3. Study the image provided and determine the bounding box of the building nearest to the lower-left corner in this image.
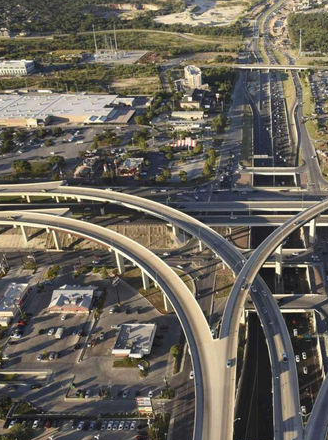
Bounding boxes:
[0,284,29,326]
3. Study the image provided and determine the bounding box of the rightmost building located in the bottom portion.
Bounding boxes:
[111,323,158,364]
